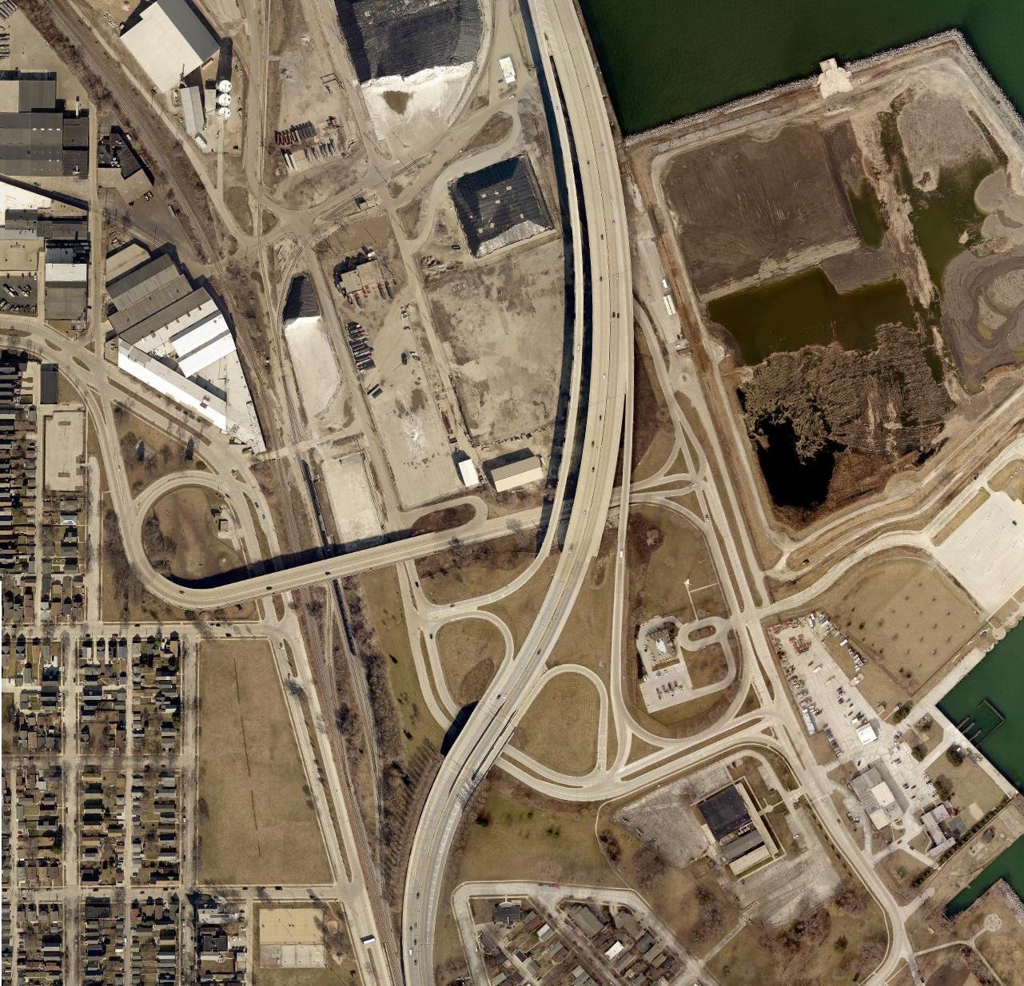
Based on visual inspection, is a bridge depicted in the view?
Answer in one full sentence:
Yes, you can see a bridge in this photo.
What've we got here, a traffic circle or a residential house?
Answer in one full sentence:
Visible in the photo is a residential house.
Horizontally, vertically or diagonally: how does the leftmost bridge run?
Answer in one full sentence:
I'd say the leftmost bridge is aligned horizontally in the picture.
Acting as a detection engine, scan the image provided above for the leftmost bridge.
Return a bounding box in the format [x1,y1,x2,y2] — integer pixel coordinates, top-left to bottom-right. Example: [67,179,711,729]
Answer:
[125,521,450,608]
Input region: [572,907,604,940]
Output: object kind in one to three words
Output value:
house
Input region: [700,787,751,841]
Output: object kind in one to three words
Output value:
building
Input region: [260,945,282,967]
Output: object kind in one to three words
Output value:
tennis court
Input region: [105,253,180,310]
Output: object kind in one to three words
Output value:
shed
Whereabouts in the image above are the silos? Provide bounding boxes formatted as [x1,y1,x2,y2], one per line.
[217,78,231,93]
[216,92,231,106]
[216,105,230,120]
